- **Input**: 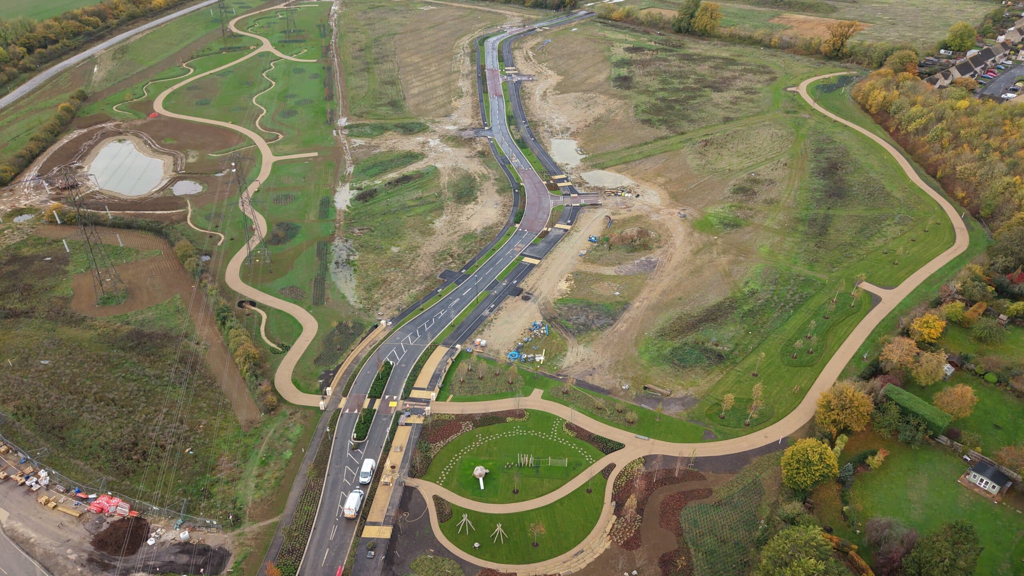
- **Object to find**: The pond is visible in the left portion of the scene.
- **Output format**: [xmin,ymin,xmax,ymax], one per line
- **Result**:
[89,140,164,196]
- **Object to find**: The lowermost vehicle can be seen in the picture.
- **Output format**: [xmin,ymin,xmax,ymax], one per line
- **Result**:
[348,487,370,516]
